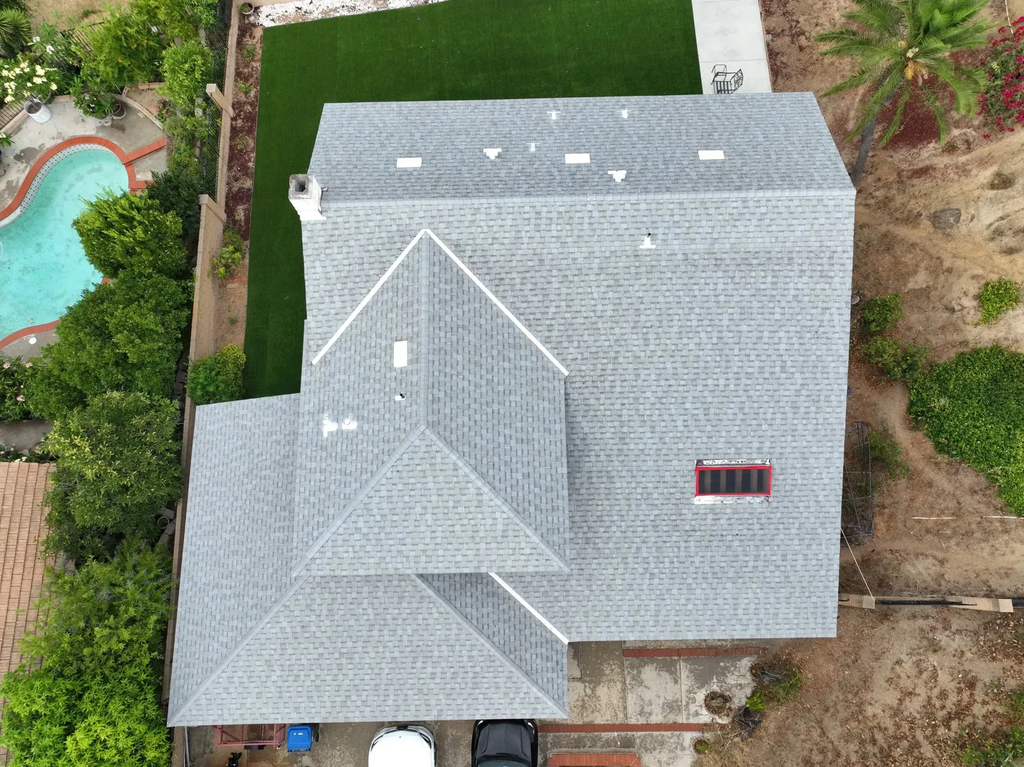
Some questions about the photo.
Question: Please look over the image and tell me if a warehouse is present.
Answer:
No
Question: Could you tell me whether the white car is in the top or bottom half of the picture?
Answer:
bottom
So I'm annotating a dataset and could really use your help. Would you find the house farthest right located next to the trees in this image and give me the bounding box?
[167,91,857,729]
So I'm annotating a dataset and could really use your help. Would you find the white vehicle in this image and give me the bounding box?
[368,723,434,767]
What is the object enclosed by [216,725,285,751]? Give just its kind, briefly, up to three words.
trailer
